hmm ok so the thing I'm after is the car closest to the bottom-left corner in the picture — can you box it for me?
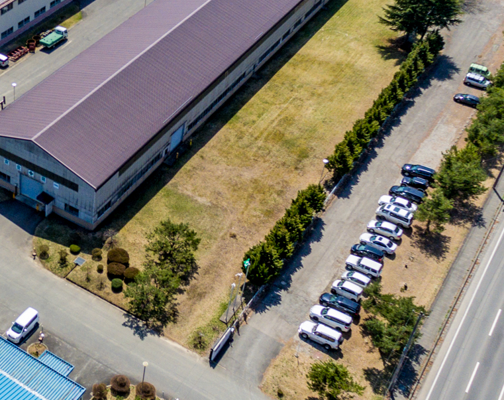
[6,305,41,341]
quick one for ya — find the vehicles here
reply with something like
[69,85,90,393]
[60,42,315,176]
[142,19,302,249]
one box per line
[357,234,398,258]
[401,175,429,191]
[364,220,405,244]
[461,72,493,90]
[6,305,41,341]
[389,185,428,206]
[298,319,346,350]
[375,205,415,229]
[467,63,491,80]
[0,55,11,68]
[344,254,386,280]
[318,292,359,320]
[347,242,388,263]
[42,24,66,44]
[325,275,370,303]
[399,162,438,182]
[450,94,484,110]
[338,268,376,292]
[379,195,418,210]
[307,305,355,336]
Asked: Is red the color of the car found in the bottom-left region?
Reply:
No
